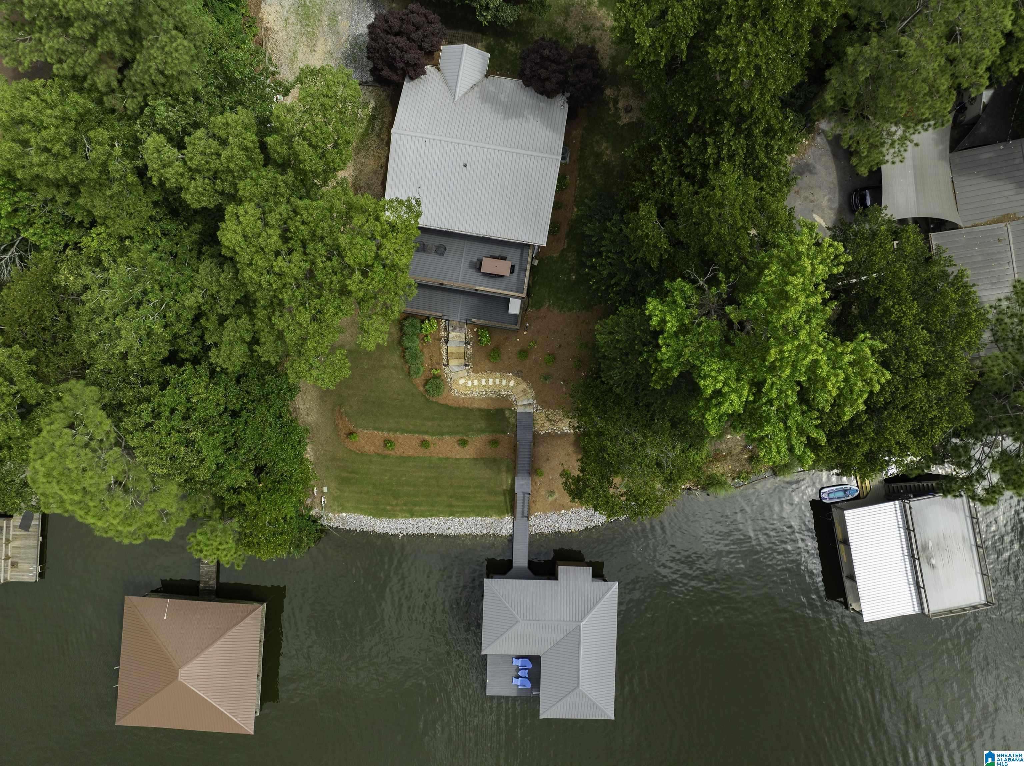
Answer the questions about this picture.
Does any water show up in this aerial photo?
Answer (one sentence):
Yes, the picture does contain water.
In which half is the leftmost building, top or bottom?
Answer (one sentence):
The leftmost building is in the bottom half of the image.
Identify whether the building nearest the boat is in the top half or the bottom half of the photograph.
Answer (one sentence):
You can find the building nearest the boat in the bottom half.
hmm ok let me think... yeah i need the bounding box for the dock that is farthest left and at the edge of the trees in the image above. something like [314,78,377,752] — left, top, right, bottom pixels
[0,511,51,583]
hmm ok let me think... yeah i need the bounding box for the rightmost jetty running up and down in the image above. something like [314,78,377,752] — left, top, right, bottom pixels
[200,533,220,599]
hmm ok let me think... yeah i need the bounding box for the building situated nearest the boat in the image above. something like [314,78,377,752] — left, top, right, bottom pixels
[828,490,994,623]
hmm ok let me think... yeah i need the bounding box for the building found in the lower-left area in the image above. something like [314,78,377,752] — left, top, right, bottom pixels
[114,592,267,737]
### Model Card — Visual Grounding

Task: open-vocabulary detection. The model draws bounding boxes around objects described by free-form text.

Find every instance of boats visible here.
[818,483,860,504]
